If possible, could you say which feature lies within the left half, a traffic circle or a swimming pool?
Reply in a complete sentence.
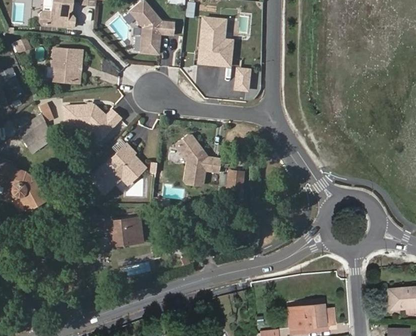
There is a swimming pool within the left half.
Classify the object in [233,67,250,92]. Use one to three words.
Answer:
building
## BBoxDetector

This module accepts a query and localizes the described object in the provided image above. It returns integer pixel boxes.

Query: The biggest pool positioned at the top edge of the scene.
[107,14,130,44]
